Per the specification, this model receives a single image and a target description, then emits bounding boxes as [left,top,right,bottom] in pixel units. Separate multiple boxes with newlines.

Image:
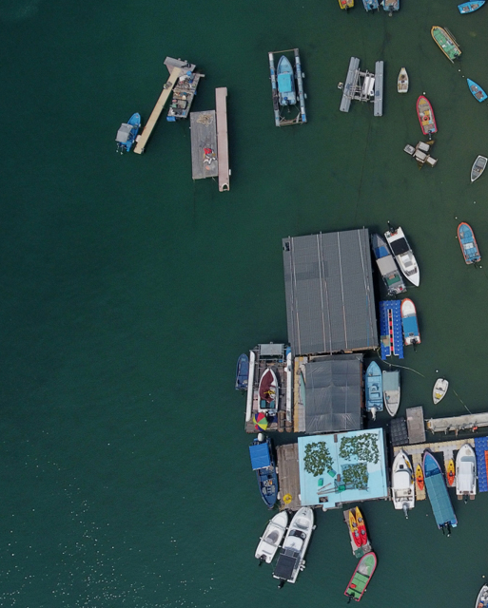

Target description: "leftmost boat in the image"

[110,112,141,160]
